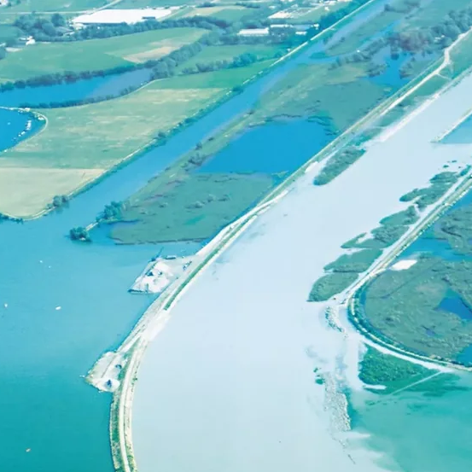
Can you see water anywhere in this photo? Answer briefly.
Yes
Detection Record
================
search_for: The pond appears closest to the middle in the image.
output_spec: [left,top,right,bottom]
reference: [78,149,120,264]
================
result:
[198,117,330,173]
